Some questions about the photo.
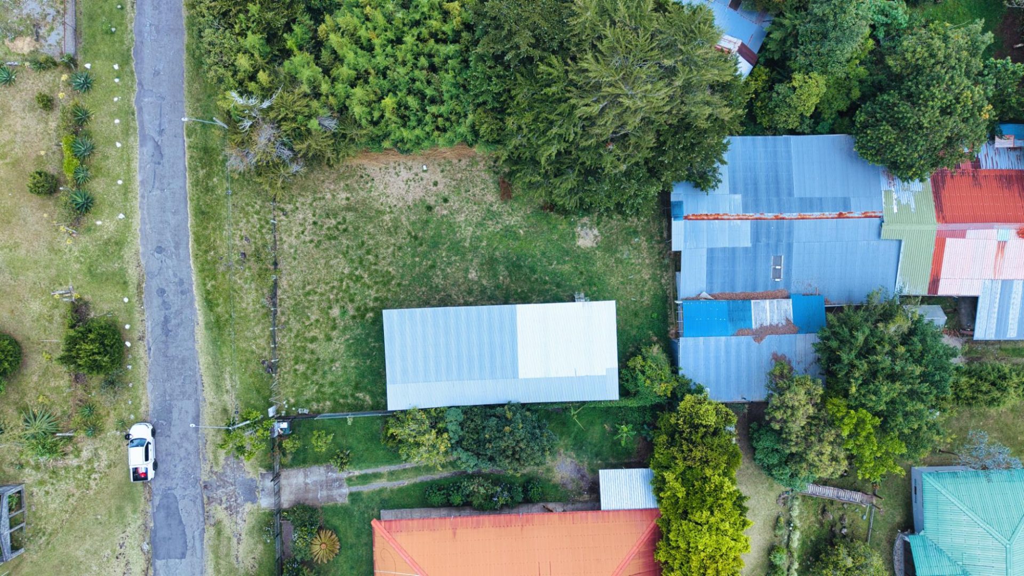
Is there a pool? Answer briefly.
No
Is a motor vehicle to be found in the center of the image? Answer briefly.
No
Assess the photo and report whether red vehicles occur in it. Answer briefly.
No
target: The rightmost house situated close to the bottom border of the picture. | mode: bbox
[910,463,1024,576]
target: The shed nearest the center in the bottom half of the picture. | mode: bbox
[383,300,619,410]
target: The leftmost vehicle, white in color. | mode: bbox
[125,422,157,484]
